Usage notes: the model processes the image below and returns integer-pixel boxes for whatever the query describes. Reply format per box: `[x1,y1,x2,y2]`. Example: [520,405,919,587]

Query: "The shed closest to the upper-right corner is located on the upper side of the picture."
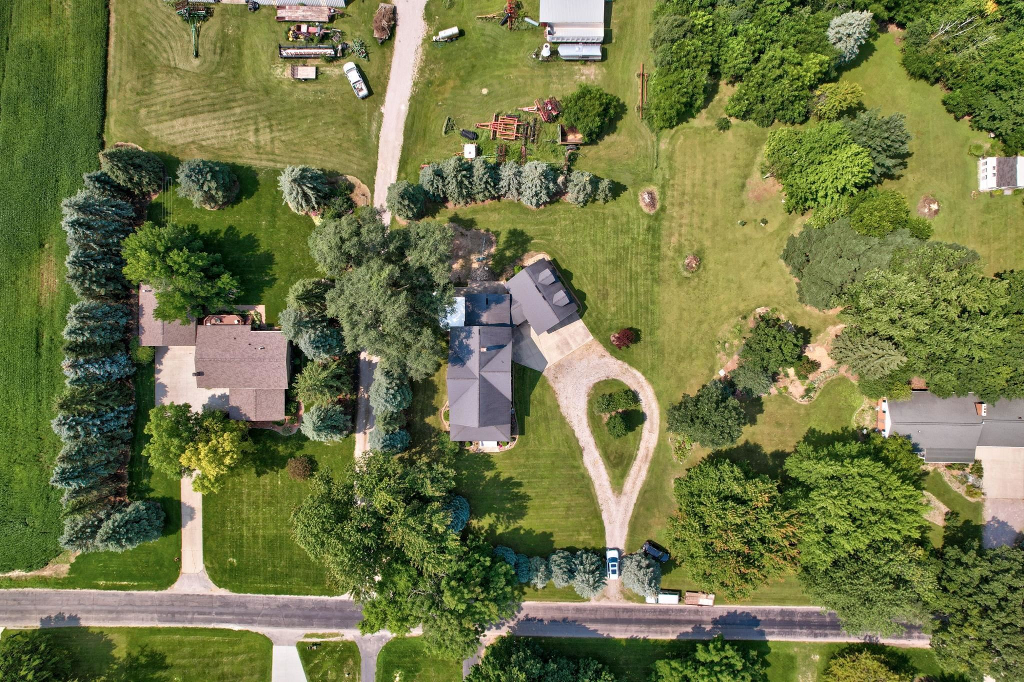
[978,156,1024,196]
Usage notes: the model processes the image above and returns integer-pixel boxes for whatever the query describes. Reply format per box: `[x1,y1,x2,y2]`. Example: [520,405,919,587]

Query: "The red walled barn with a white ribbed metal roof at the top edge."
[540,0,604,33]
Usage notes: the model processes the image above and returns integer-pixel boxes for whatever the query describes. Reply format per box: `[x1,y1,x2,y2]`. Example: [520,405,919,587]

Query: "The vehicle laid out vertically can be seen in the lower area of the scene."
[606,546,621,580]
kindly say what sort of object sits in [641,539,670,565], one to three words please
car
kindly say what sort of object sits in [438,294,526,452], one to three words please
house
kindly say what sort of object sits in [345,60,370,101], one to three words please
truck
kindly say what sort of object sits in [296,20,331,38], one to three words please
work vehicle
